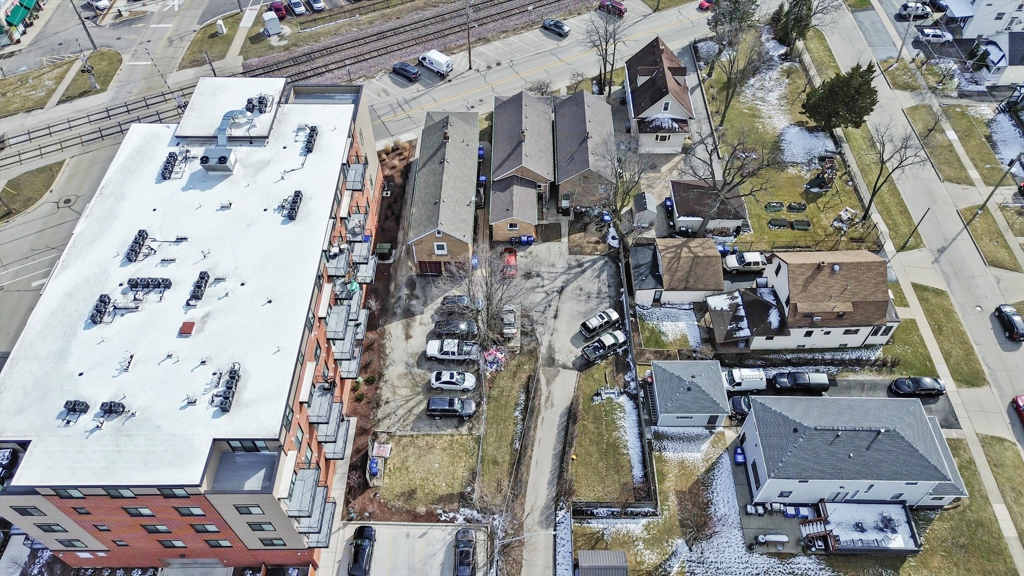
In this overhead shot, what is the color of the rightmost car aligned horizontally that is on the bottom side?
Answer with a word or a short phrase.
black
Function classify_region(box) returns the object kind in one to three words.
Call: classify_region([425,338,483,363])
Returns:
truck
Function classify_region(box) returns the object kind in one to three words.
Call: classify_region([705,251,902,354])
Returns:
house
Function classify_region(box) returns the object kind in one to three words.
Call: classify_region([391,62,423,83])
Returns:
car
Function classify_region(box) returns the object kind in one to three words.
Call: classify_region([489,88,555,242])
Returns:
house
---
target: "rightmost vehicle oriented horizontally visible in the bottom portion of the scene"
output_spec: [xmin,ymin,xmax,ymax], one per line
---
[886,375,949,399]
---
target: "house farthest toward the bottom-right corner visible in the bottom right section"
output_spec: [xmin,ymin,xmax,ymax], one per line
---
[739,394,971,511]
